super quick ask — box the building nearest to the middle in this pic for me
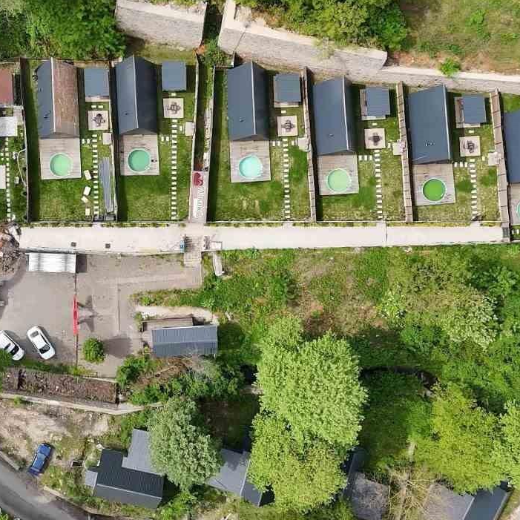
[152,324,218,358]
